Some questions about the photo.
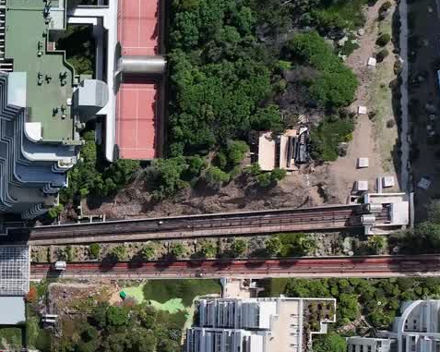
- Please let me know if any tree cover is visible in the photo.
Yes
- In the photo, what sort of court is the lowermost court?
tennis court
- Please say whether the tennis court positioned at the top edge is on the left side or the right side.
left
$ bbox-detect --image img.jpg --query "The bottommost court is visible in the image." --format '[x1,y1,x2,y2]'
[89,81,154,173]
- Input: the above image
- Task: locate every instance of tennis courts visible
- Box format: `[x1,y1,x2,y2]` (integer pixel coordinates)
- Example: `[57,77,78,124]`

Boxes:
[114,0,154,75]
[89,81,154,173]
